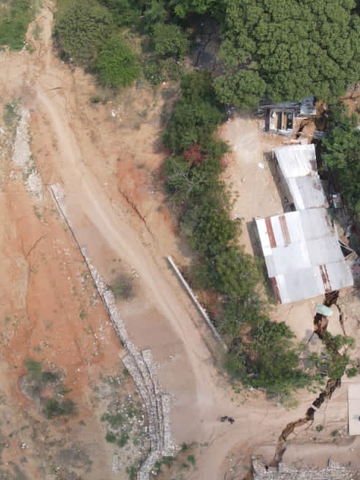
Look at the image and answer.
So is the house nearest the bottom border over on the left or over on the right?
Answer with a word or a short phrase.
right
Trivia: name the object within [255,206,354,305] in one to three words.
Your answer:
house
